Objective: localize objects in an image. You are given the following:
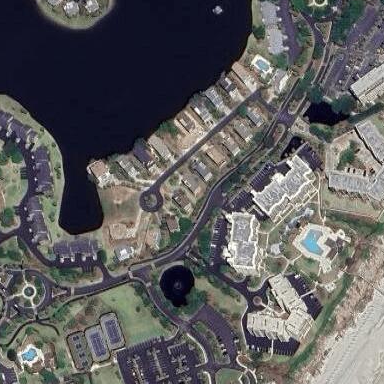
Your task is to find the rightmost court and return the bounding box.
[102,316,126,354]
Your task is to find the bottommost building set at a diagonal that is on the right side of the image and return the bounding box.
[269,275,311,320]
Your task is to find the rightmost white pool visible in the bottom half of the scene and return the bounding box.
[293,223,348,273]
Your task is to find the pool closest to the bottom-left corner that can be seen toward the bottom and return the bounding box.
[18,344,44,365]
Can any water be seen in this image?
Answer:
Yes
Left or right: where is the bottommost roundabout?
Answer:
left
